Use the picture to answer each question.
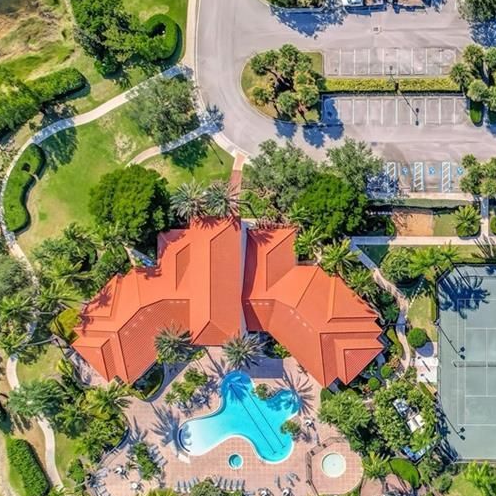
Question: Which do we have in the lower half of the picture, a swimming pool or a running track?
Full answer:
There is a swimming pool in the lower half of the picture.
